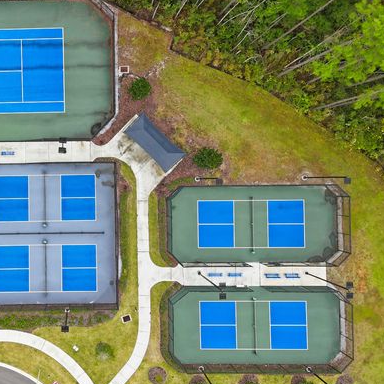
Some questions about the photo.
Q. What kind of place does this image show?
sports ground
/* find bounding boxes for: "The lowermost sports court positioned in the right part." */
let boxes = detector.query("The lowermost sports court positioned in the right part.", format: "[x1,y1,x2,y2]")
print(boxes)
[174,286,341,365]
